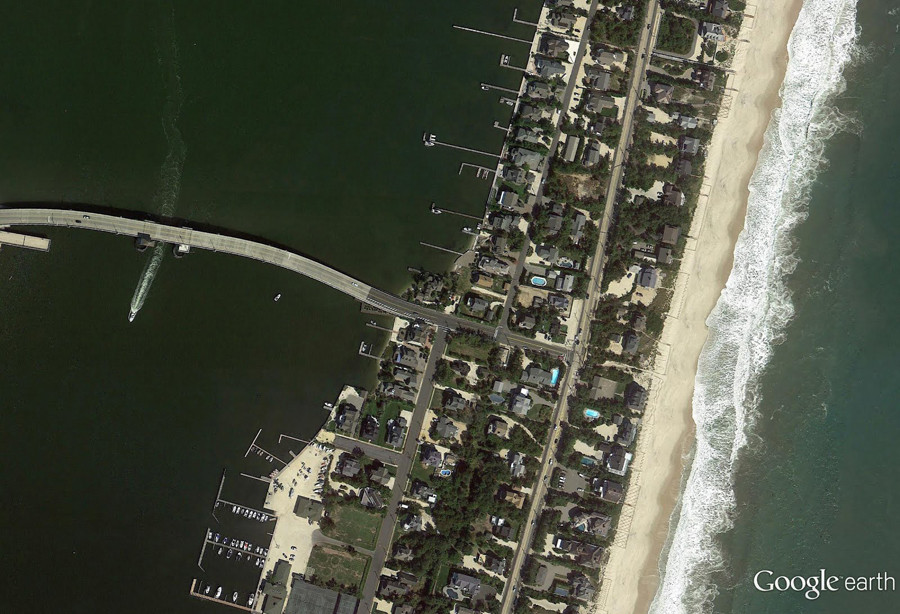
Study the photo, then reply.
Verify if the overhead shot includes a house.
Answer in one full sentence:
Yes, there's a house here.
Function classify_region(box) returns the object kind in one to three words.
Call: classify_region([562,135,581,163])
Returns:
house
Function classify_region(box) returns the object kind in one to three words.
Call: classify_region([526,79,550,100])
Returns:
house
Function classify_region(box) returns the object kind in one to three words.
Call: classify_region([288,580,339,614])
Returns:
shed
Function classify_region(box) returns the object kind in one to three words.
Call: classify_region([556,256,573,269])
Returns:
swimming pool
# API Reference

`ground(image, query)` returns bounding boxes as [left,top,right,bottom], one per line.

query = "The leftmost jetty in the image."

[0,229,51,251]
